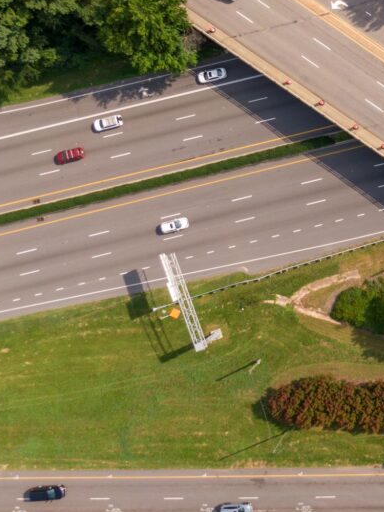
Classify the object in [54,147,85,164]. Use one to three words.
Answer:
car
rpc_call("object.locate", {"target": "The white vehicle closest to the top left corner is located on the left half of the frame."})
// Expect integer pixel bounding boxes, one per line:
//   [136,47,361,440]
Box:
[93,114,124,131]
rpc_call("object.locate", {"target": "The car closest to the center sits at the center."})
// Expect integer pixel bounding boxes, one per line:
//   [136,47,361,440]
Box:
[160,217,190,234]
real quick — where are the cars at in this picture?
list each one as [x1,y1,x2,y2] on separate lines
[29,485,63,501]
[160,217,190,234]
[93,114,124,131]
[220,503,252,512]
[54,147,85,164]
[198,67,227,84]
